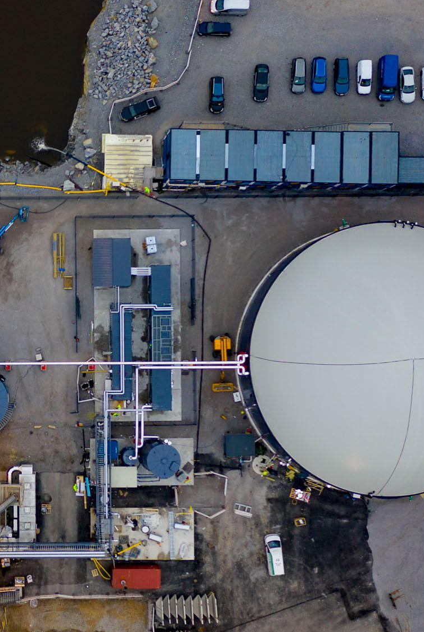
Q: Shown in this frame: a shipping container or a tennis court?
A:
shipping container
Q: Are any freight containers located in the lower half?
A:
Yes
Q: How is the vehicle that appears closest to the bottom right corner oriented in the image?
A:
up and down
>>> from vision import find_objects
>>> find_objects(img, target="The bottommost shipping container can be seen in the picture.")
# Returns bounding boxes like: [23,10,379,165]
[109,564,160,589]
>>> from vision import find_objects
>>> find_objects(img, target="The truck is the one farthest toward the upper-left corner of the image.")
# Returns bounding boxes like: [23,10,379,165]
[119,95,161,123]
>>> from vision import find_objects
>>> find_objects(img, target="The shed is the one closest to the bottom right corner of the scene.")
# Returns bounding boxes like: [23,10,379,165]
[219,432,255,463]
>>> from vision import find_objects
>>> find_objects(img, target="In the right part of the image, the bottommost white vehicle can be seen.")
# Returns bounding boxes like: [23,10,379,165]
[264,534,286,578]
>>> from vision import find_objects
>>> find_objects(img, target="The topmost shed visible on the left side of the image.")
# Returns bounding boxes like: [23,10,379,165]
[101,133,153,191]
